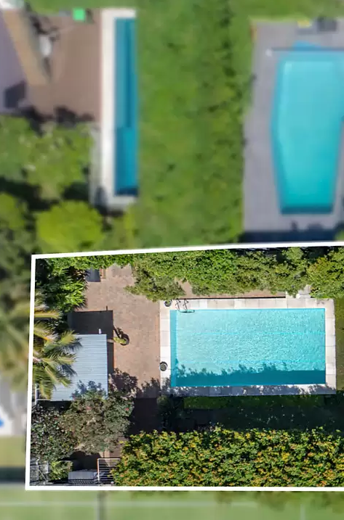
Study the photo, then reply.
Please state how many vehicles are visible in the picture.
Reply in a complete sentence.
There are no vehicles in this view.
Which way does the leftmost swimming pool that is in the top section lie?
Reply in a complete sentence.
The leftmost swimming pool that is in the top section is laid out up and down.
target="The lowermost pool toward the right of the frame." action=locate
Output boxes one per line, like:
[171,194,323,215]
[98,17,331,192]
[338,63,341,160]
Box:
[160,300,335,395]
